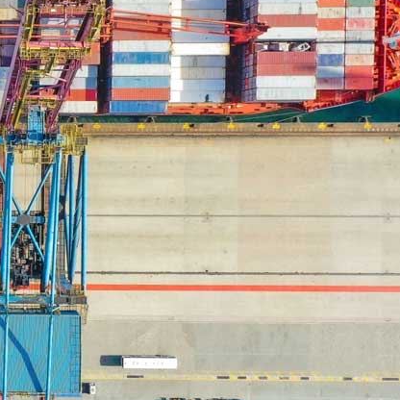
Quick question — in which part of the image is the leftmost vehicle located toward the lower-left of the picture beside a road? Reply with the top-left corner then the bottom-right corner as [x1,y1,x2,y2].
[82,381,95,394]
